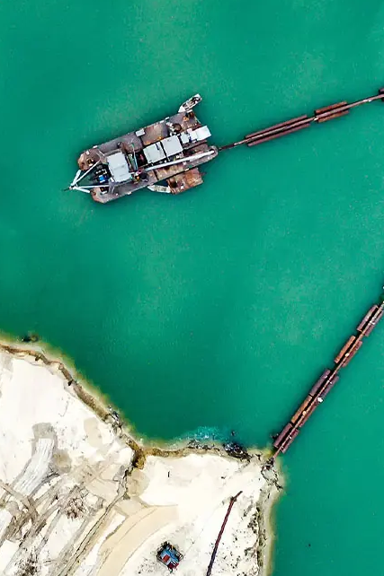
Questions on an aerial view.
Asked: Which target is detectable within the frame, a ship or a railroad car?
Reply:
ship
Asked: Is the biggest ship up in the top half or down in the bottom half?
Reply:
top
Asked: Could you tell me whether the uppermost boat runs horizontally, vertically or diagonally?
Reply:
diagonally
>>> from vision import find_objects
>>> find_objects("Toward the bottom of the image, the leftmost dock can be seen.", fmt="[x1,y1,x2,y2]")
[266,423,300,464]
